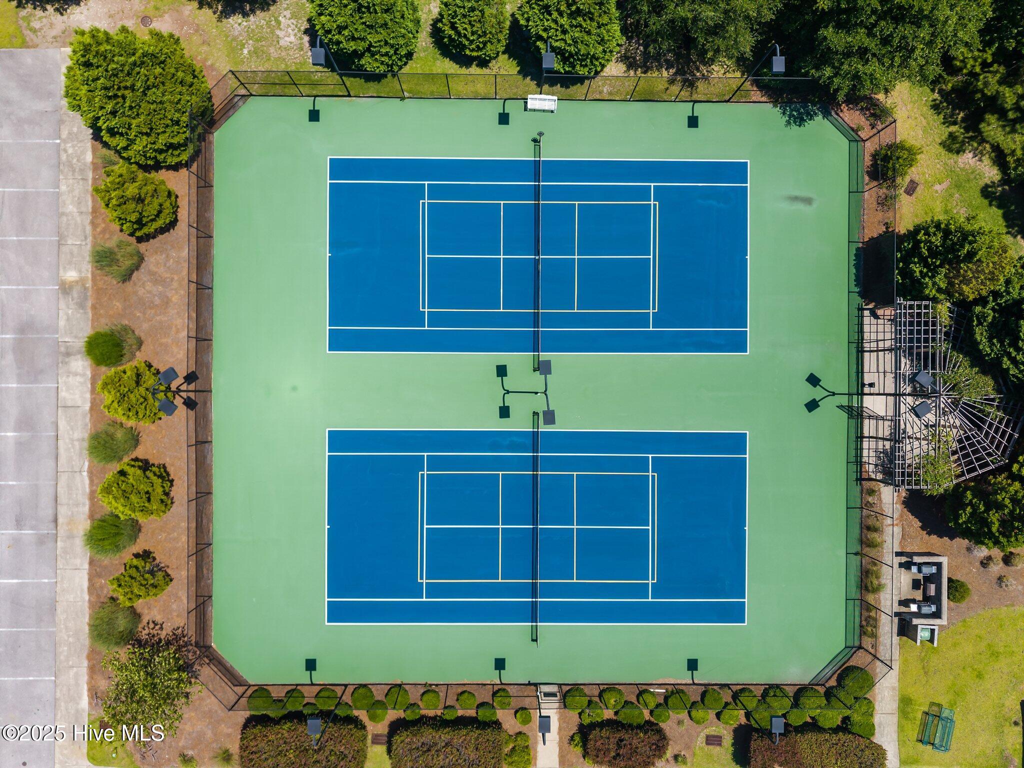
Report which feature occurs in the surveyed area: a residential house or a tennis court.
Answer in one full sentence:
Of the two, only a tennis court appears.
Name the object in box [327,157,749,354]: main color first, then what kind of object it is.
blue tennis court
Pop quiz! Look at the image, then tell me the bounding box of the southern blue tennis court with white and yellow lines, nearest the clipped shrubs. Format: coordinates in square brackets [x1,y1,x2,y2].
[325,429,749,625]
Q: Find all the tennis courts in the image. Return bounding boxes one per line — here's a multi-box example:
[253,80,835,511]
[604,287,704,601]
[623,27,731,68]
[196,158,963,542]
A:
[325,429,749,625]
[327,157,749,354]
